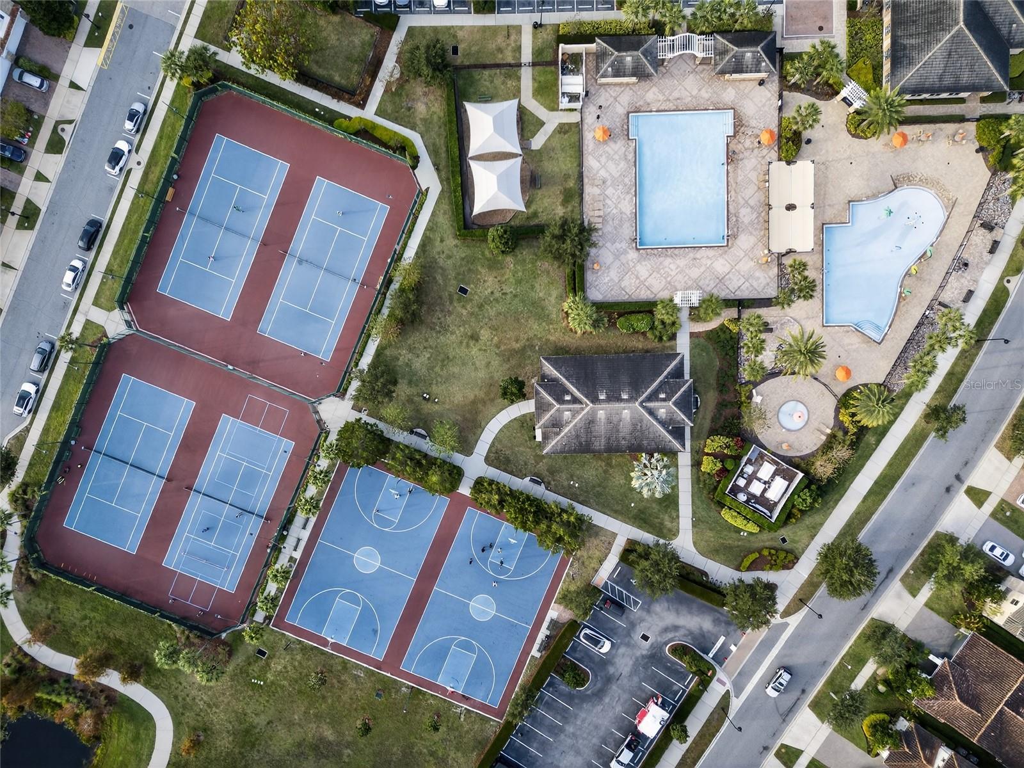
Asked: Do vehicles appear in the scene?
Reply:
Yes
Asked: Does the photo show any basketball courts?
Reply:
Yes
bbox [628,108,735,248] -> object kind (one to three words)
swimming pool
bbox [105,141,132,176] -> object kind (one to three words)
car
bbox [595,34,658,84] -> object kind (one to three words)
building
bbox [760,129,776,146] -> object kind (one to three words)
umbrella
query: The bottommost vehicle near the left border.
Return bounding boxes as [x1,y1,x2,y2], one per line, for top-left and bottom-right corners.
[13,382,40,416]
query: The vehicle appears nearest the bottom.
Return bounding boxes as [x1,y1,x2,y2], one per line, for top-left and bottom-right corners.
[608,736,640,768]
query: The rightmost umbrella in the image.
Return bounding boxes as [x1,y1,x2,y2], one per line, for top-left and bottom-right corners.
[890,131,908,148]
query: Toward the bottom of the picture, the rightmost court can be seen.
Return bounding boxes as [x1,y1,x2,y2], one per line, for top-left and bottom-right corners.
[388,494,574,721]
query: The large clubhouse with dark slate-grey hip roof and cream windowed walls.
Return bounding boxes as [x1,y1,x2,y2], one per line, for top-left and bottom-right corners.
[883,0,1024,97]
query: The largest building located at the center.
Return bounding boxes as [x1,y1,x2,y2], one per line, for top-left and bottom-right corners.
[534,353,702,454]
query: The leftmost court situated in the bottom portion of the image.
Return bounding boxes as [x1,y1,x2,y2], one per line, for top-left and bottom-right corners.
[36,332,225,597]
